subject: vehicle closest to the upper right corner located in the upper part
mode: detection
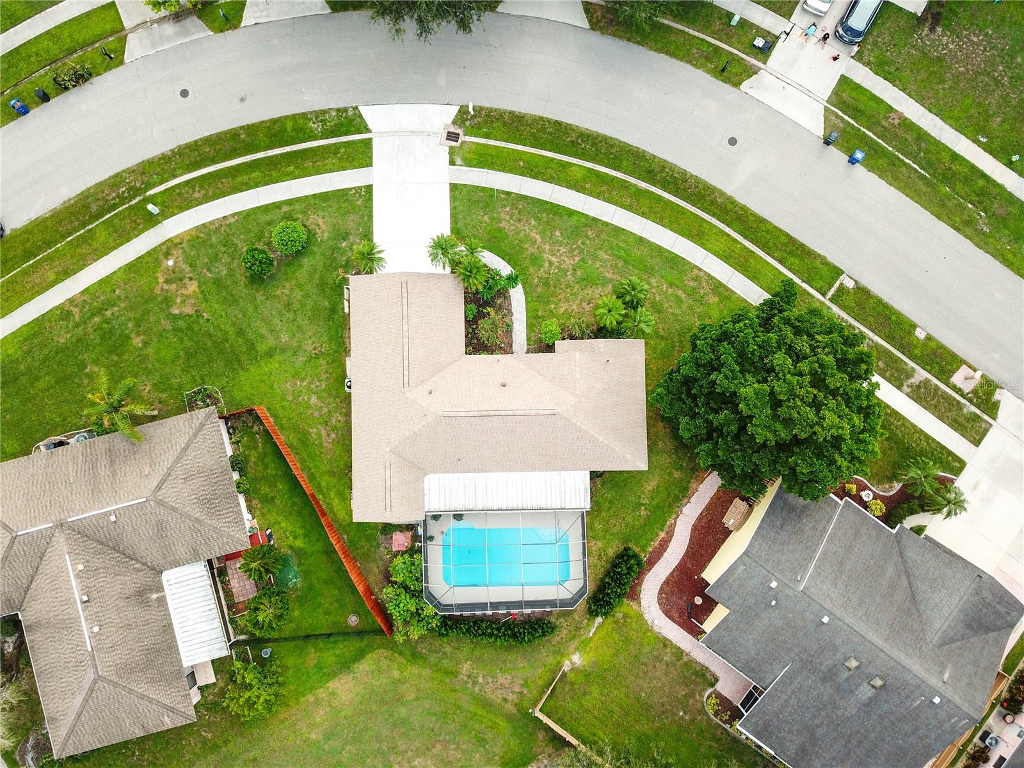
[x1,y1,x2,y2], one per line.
[836,0,888,48]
